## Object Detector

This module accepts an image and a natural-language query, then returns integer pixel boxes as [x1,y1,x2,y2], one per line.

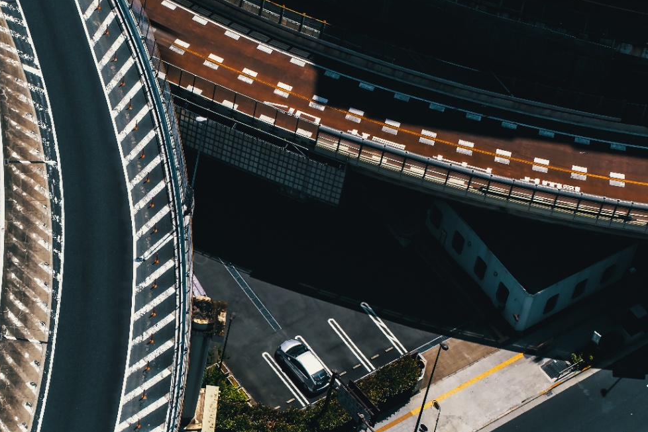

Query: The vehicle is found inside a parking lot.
[280,339,327,394]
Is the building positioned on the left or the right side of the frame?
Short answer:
right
